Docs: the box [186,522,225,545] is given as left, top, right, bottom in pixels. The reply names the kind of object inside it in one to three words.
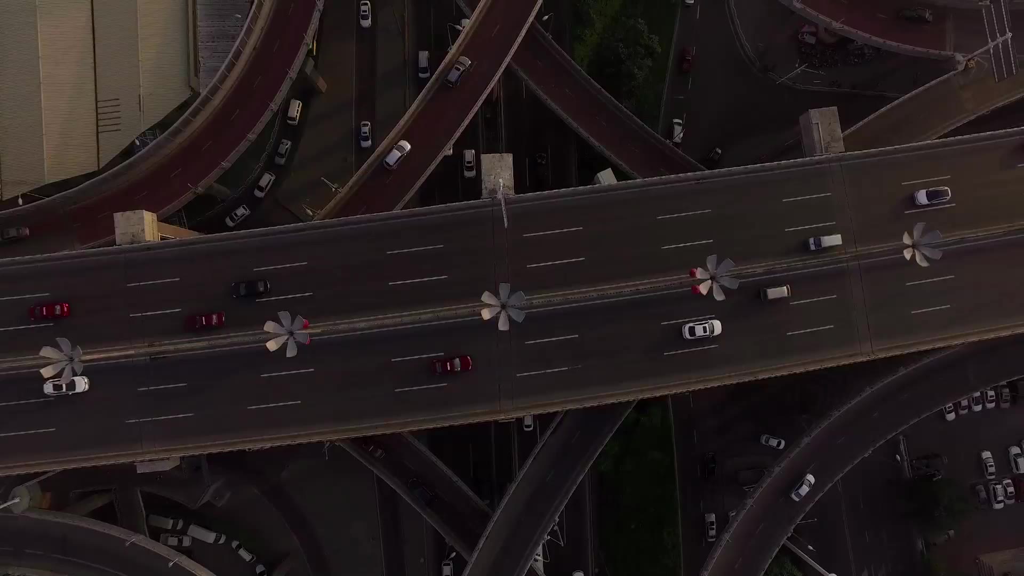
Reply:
vehicle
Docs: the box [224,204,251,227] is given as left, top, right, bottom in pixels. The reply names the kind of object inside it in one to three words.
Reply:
car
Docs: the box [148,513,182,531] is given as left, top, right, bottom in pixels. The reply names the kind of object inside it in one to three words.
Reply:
vehicle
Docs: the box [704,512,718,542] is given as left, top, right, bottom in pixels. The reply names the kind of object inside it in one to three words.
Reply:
car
